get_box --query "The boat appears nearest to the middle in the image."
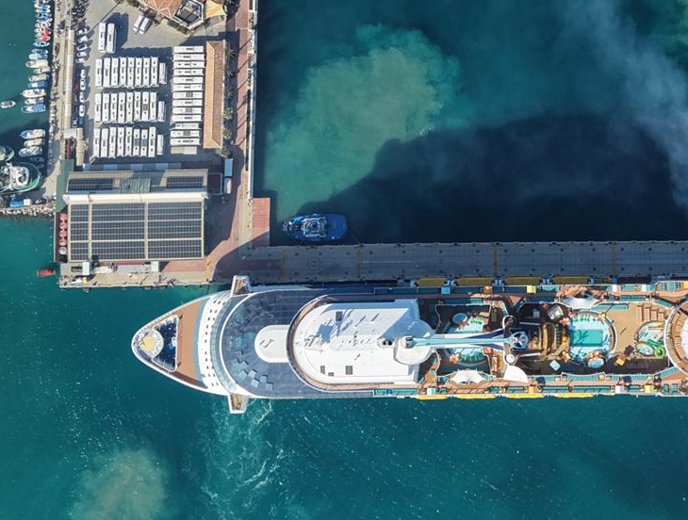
[281,214,349,243]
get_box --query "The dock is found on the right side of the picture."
[271,240,688,283]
